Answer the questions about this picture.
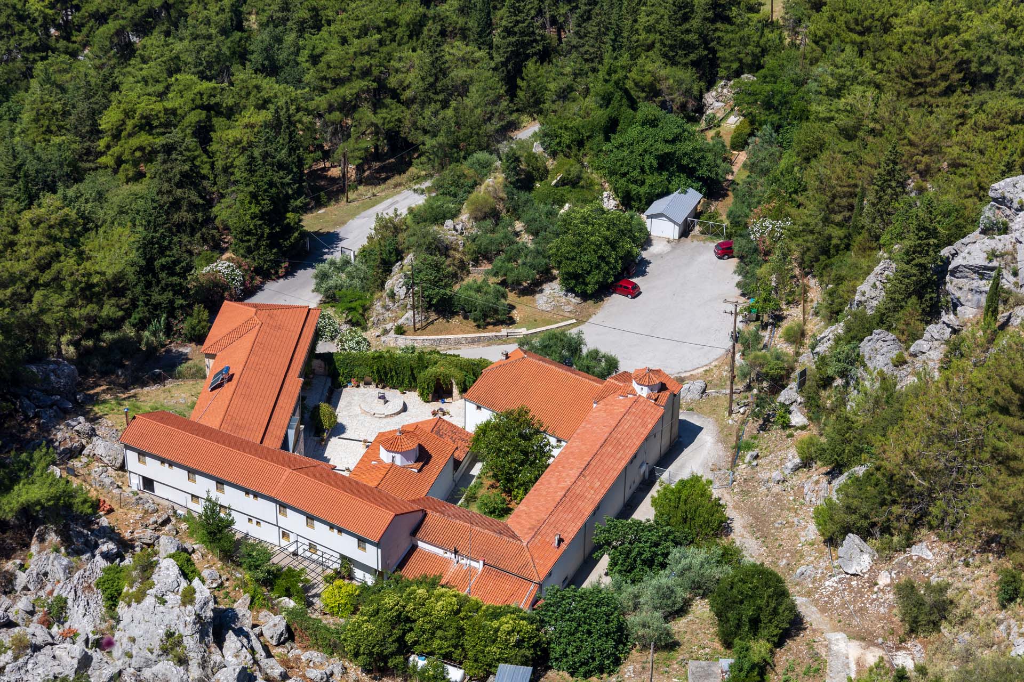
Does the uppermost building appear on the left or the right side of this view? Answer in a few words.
right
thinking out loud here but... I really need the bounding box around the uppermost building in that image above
[645,185,703,239]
